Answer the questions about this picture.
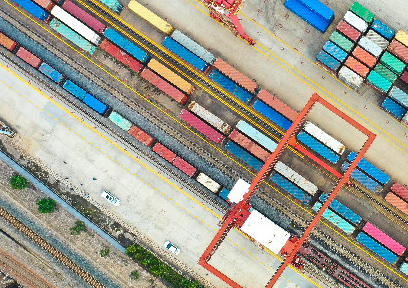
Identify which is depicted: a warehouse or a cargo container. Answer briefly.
cargo container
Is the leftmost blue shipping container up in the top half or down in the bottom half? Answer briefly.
top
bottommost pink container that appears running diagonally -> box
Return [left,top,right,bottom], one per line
[363,222,406,256]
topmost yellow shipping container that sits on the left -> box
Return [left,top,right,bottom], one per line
[129,0,175,37]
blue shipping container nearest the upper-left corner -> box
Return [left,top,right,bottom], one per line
[11,0,53,26]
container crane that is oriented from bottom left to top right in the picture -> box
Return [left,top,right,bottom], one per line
[201,95,375,288]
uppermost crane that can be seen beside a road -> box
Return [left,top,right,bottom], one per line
[204,0,257,48]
